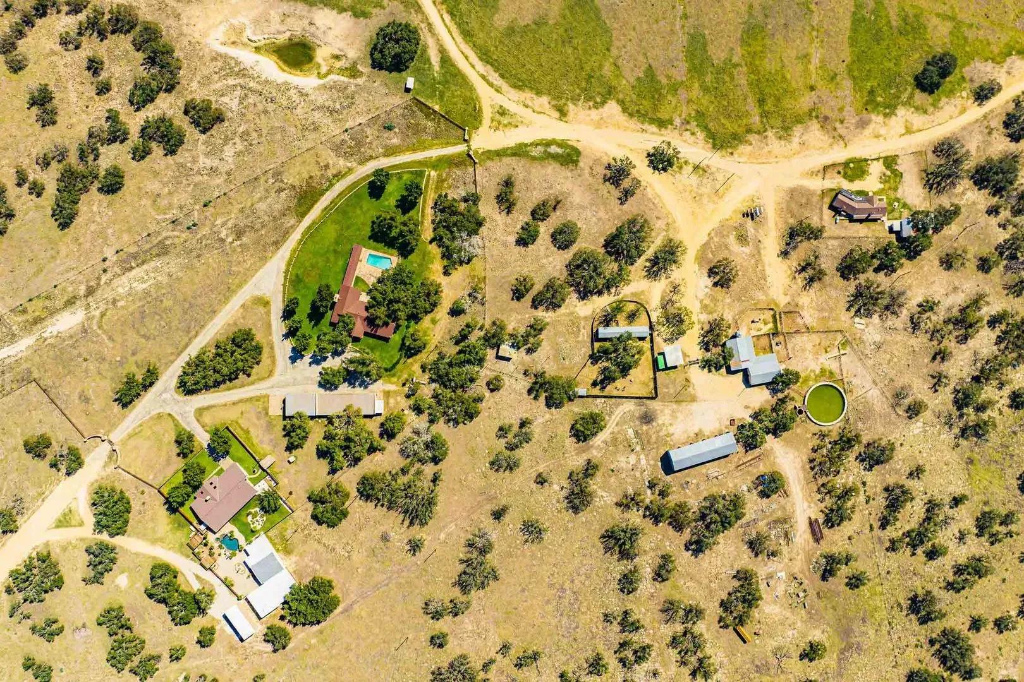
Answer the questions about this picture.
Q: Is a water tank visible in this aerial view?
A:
Yes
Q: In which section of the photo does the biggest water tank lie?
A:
right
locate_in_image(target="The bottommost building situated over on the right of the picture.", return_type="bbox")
[666,428,738,471]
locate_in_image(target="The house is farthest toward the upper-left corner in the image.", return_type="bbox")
[331,245,395,338]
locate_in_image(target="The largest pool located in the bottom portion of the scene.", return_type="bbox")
[220,534,239,551]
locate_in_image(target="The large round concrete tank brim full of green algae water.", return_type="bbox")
[803,383,847,425]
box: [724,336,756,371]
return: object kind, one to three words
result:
barn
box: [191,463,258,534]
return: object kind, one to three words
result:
house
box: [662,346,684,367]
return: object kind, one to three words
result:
shed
